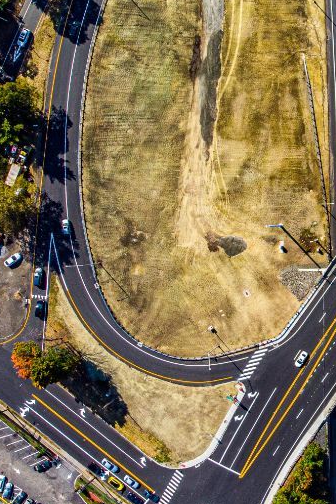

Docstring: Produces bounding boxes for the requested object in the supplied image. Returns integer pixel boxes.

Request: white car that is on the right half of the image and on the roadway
[293,351,307,367]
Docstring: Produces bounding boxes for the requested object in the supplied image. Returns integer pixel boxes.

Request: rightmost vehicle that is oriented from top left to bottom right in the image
[140,488,161,504]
